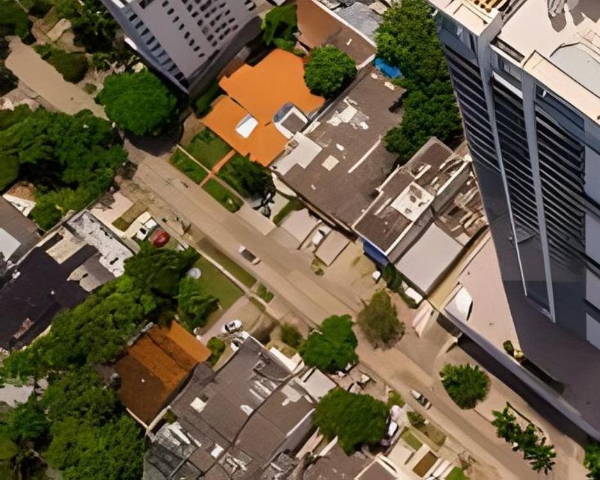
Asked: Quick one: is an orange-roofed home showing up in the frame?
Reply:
Yes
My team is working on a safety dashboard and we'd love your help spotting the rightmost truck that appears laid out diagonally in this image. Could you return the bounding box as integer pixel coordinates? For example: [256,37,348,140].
[407,385,435,415]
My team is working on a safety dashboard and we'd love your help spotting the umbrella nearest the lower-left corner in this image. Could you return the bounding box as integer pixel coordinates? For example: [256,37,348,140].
[188,267,202,280]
